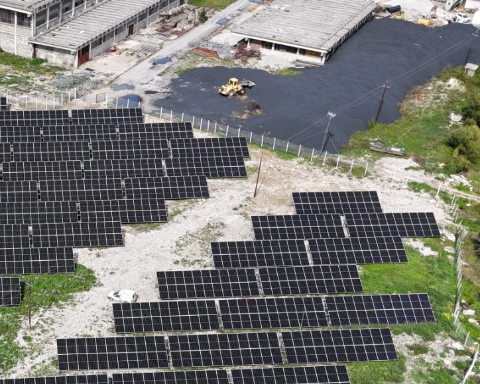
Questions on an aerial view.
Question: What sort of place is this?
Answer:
solar farm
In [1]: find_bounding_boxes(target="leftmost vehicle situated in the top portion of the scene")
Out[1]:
[218,79,256,99]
